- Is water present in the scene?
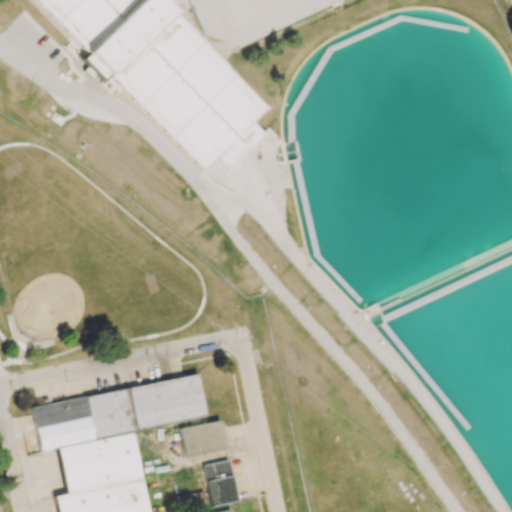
Yes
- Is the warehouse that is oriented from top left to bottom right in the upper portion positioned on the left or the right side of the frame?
left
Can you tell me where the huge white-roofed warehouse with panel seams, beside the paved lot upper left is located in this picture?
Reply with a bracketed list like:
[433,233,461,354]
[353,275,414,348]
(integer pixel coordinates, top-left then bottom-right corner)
[34,0,270,170]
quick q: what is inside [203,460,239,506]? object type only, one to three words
house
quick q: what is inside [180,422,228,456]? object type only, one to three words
building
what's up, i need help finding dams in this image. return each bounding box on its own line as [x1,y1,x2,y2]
[362,248,512,318]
